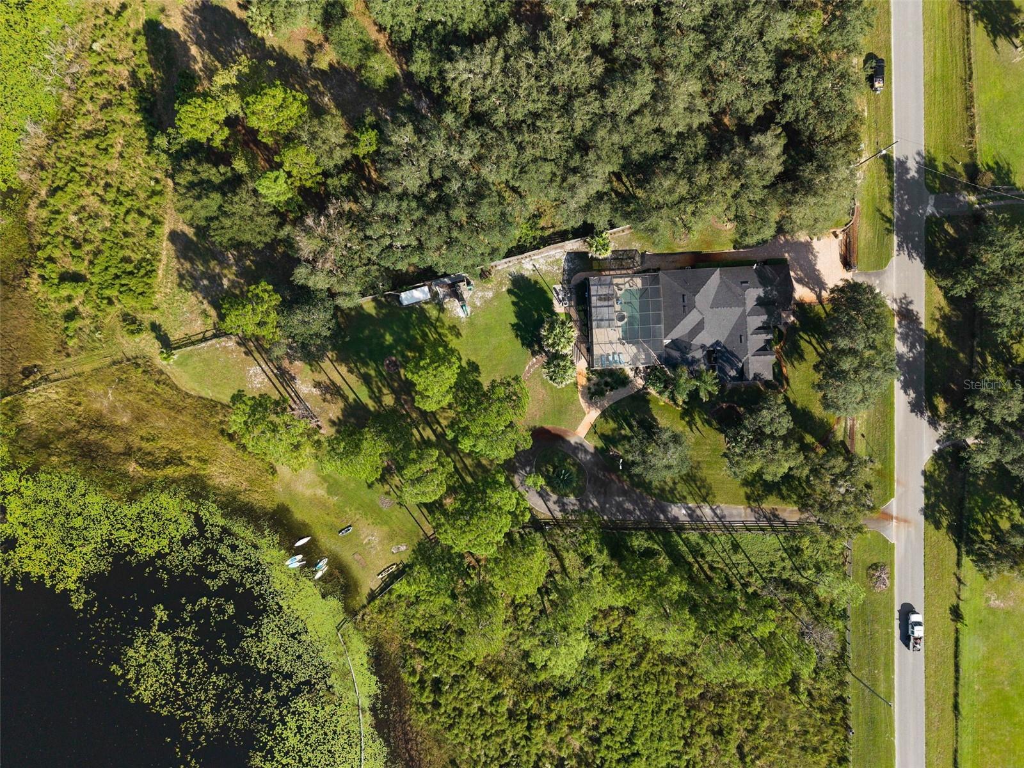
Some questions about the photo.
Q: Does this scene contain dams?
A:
No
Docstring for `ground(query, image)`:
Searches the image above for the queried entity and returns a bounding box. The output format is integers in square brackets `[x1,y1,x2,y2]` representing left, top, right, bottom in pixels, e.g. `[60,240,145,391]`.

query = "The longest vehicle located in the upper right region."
[872,54,889,95]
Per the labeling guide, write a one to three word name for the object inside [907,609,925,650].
vehicle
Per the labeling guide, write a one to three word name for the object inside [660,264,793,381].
house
